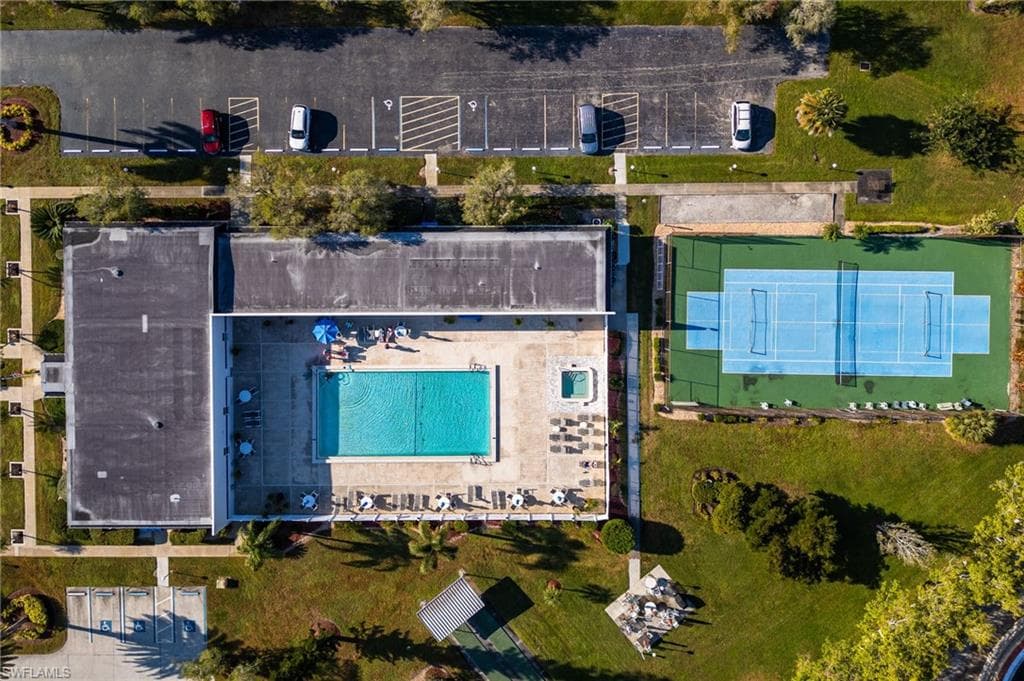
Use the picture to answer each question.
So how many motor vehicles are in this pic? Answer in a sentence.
The number of motor vehicles here is 4.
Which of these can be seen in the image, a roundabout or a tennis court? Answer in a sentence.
It is a tennis court that can be seen here.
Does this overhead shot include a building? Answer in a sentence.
Yes, the photo shows a building.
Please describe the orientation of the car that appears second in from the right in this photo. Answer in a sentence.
In this picture, the car that appears second in from the right lies from top to bottom.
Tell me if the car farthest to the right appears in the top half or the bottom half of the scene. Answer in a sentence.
You can find the car farthest to the right in the top half.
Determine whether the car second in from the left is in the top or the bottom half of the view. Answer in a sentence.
You can find the car second in from the left in the top half.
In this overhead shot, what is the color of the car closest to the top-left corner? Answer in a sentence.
The car closest to the top-left corner is red.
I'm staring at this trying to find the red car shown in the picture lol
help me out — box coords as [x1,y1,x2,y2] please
[197,109,222,154]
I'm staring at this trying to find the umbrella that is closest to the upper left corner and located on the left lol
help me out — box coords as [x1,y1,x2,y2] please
[313,317,341,344]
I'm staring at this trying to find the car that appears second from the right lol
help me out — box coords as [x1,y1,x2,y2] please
[577,103,600,155]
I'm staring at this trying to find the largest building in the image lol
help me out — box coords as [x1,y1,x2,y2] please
[41,220,616,536]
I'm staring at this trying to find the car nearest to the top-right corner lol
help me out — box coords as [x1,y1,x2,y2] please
[730,101,754,150]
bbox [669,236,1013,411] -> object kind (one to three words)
tennis court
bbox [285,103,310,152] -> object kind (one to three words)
car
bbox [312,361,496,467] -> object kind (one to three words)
swimming pool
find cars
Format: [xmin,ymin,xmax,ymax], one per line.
[730,101,754,150]
[197,109,222,154]
[577,103,600,155]
[285,103,310,152]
